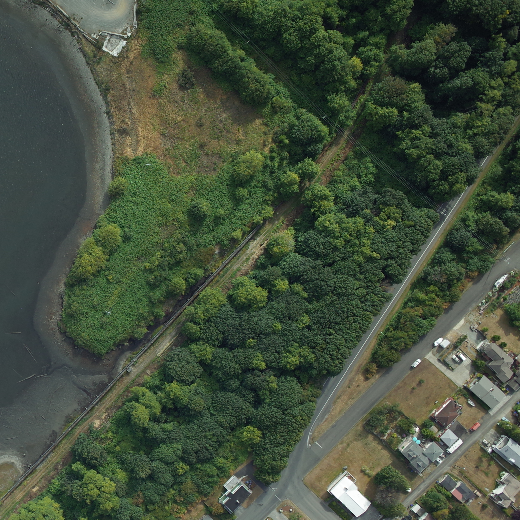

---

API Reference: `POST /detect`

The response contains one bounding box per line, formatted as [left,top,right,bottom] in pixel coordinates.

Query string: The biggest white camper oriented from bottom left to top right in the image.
[447,439,466,454]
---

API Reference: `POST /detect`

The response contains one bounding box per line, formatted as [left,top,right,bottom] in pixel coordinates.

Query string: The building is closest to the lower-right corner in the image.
[491,473,520,501]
